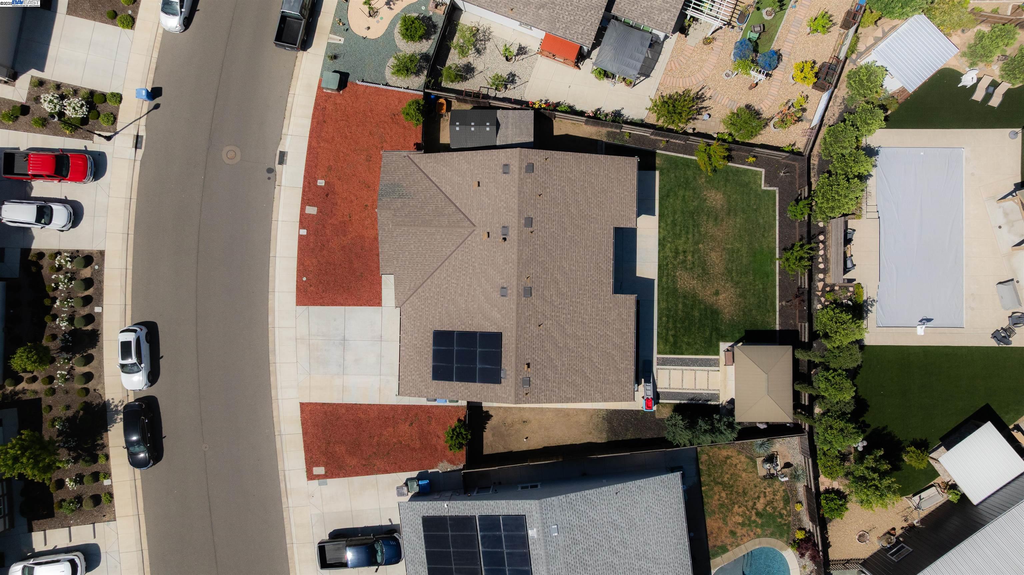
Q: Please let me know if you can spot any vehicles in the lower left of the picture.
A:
Yes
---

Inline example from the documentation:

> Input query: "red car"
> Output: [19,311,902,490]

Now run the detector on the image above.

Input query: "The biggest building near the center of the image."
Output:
[378,149,640,404]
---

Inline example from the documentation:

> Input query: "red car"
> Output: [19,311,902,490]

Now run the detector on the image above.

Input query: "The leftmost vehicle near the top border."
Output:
[157,0,192,35]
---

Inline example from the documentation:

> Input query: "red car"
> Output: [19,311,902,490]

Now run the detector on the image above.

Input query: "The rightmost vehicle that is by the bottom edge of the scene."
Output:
[316,533,403,573]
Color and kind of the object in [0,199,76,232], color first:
white car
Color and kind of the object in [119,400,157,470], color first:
black car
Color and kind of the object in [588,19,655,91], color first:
gray gazebo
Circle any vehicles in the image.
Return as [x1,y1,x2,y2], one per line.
[157,0,192,35]
[316,533,403,573]
[274,0,315,56]
[113,325,151,392]
[119,400,157,470]
[0,147,96,183]
[8,552,90,575]
[0,199,76,232]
